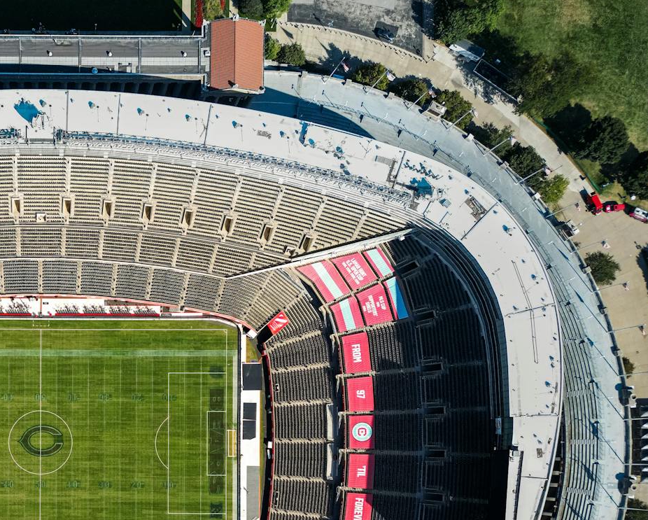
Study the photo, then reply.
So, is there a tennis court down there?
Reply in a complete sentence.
No, this view has no tennis court in it.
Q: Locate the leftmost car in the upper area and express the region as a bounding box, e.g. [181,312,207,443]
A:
[377,27,393,40]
